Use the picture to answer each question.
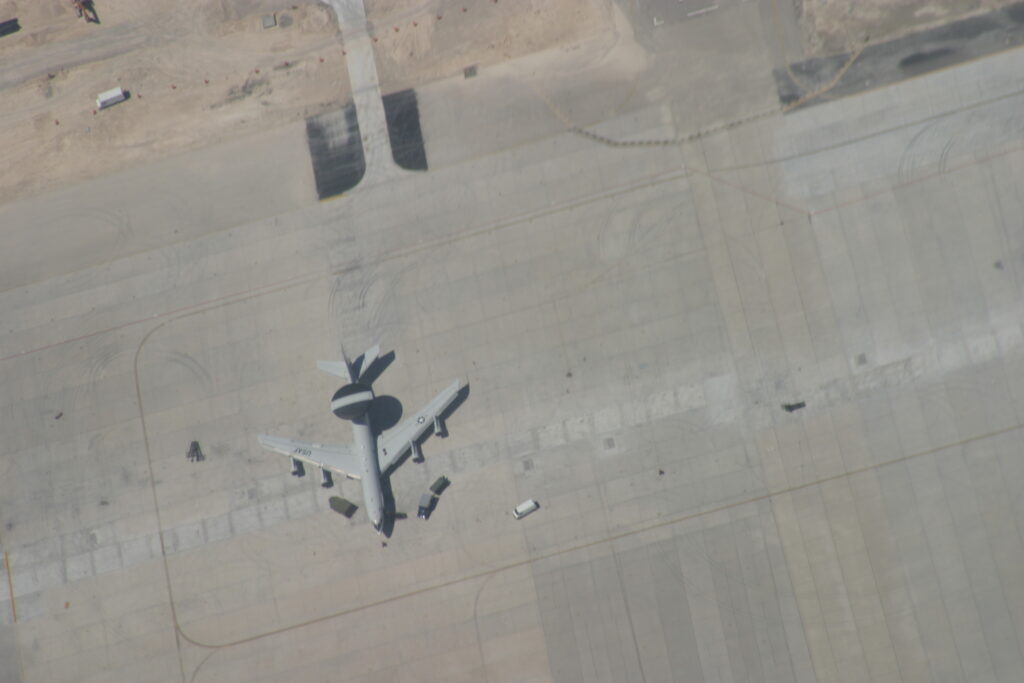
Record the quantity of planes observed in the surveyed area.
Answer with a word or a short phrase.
1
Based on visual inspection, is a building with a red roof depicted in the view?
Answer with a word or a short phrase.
No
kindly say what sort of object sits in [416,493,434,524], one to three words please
vehicle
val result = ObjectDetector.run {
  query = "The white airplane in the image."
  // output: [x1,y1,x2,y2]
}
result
[257,341,460,534]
